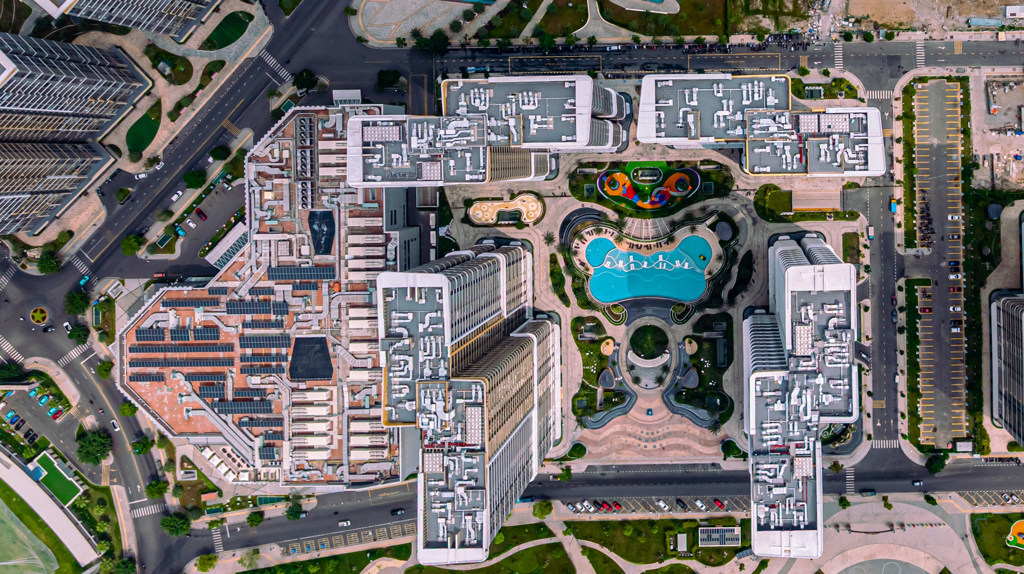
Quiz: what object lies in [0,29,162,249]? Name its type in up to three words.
building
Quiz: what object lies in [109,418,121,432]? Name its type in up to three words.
vehicle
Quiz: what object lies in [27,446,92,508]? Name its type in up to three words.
building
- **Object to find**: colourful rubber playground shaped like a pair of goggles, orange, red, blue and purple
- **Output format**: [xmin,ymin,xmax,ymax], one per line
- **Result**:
[596,160,700,212]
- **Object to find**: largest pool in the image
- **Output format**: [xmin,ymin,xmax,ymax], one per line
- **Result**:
[564,217,730,311]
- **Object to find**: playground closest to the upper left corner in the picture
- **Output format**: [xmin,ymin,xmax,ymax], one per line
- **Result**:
[468,194,543,223]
